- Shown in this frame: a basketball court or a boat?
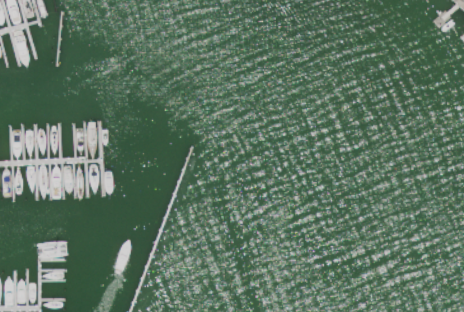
boat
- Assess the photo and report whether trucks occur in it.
No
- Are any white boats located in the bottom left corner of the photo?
Yes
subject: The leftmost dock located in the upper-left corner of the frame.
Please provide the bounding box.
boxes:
[0,0,42,68]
